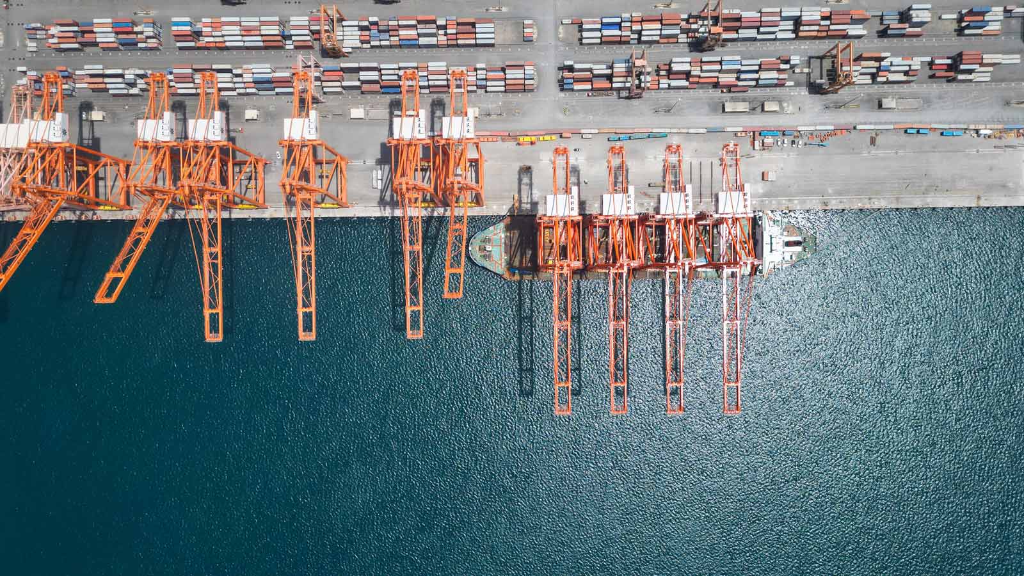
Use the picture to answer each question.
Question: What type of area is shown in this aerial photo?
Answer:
port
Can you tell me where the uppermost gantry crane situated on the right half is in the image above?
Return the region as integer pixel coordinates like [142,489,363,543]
[691,0,723,52]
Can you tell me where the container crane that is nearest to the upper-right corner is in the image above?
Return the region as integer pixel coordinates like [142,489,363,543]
[815,38,854,94]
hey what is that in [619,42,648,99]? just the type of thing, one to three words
container crane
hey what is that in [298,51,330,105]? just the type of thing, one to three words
container crane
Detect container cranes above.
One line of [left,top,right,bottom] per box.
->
[298,51,330,105]
[0,75,137,299]
[175,73,273,344]
[0,82,91,214]
[815,38,854,94]
[629,144,700,413]
[317,3,351,61]
[95,74,228,304]
[619,42,648,99]
[683,143,761,413]
[275,71,355,342]
[691,0,723,52]
[531,146,583,415]
[579,145,639,414]
[383,70,445,341]
[432,69,491,299]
